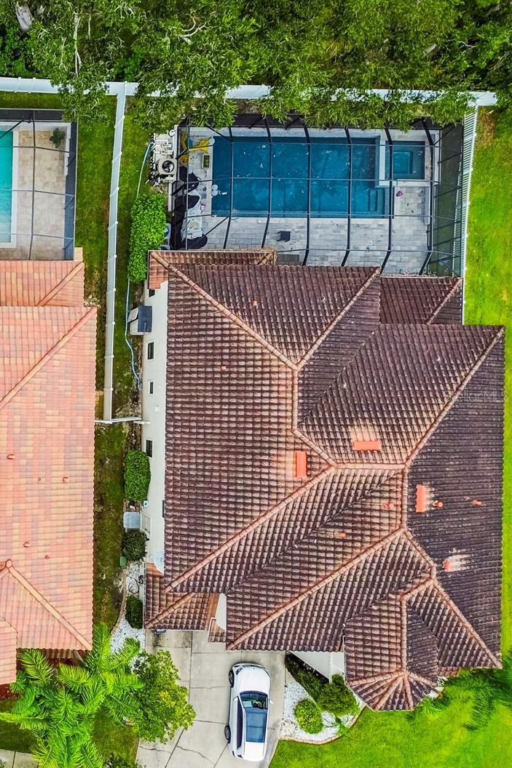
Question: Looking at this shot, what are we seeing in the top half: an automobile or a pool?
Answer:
pool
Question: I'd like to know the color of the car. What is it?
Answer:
white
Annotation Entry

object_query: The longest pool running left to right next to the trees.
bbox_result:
[168,124,429,222]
